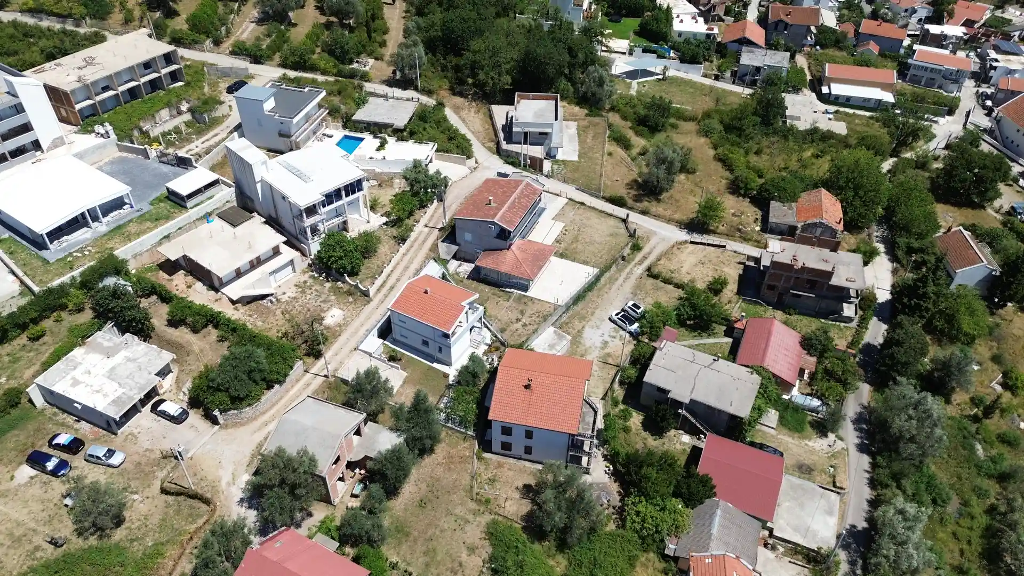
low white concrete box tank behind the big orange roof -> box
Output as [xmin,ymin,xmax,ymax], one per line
[525,327,571,357]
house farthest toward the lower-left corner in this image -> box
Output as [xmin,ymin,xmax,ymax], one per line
[24,331,181,440]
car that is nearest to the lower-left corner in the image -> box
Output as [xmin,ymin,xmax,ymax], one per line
[27,450,70,476]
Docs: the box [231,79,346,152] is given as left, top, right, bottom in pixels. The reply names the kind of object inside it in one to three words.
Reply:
building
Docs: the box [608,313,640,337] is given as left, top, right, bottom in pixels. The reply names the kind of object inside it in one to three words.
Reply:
car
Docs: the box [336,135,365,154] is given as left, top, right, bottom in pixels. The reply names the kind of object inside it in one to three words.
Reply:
swimming pool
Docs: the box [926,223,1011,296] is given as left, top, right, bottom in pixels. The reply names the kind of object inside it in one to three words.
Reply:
house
